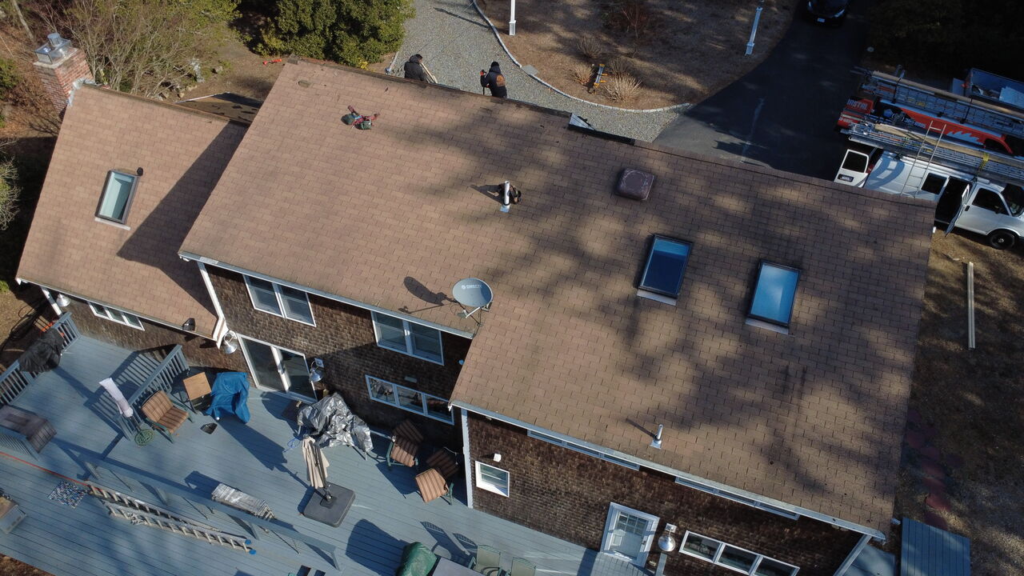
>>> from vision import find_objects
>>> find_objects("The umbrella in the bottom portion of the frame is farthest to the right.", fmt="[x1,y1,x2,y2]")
[291,433,348,525]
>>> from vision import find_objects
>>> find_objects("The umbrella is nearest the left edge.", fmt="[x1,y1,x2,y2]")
[104,378,156,449]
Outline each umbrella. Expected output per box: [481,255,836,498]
[291,433,348,525]
[104,378,156,449]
